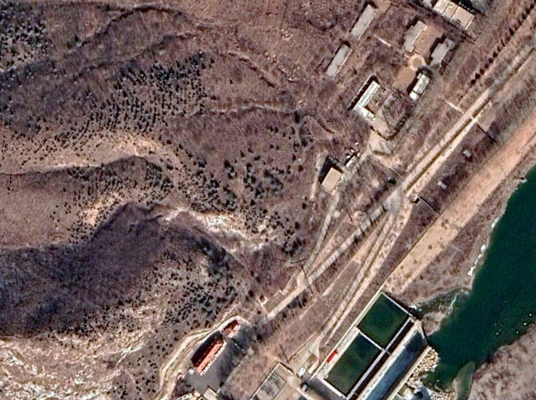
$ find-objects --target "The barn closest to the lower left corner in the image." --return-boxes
[194,340,223,372]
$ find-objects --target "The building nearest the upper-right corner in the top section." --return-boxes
[433,0,474,31]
